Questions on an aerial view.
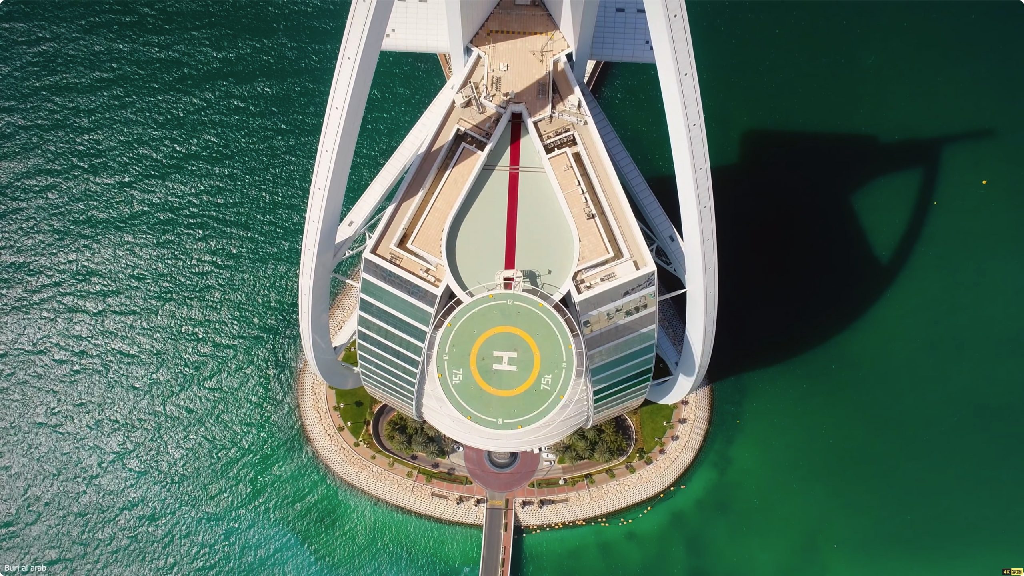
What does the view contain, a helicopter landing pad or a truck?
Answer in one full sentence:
I can see a helicopter landing pad in this picture.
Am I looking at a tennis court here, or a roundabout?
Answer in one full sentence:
Of the two, only a roundabout appears.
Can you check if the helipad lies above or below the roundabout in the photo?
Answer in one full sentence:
Within the scene, the helipad can be found above the roundabout.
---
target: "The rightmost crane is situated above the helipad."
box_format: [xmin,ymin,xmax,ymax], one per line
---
[550,95,587,126]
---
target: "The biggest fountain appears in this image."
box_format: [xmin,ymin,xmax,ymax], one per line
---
[483,450,521,473]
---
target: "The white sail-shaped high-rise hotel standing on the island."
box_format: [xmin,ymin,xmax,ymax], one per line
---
[299,0,718,453]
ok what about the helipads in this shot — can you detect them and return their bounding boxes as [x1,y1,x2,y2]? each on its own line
[424,267,586,443]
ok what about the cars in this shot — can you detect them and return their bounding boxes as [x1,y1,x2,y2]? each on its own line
[455,444,465,453]
[542,453,555,458]
[540,445,552,451]
[543,460,555,466]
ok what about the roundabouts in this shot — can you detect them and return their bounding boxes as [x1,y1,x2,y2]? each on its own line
[463,444,553,493]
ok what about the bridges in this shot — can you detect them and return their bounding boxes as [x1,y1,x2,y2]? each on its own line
[480,493,514,576]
